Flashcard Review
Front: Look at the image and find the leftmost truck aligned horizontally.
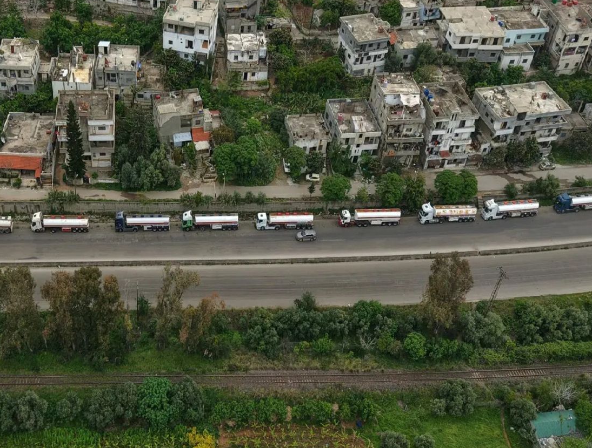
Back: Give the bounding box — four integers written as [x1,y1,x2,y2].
[30,210,88,232]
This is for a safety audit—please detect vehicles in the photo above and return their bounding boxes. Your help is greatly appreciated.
[0,213,12,233]
[284,156,292,170]
[339,203,402,226]
[295,230,316,241]
[552,190,592,212]
[30,210,88,232]
[419,201,478,223]
[305,172,321,180]
[255,209,313,229]
[116,211,169,231]
[182,209,238,230]
[538,159,558,168]
[480,196,541,219]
